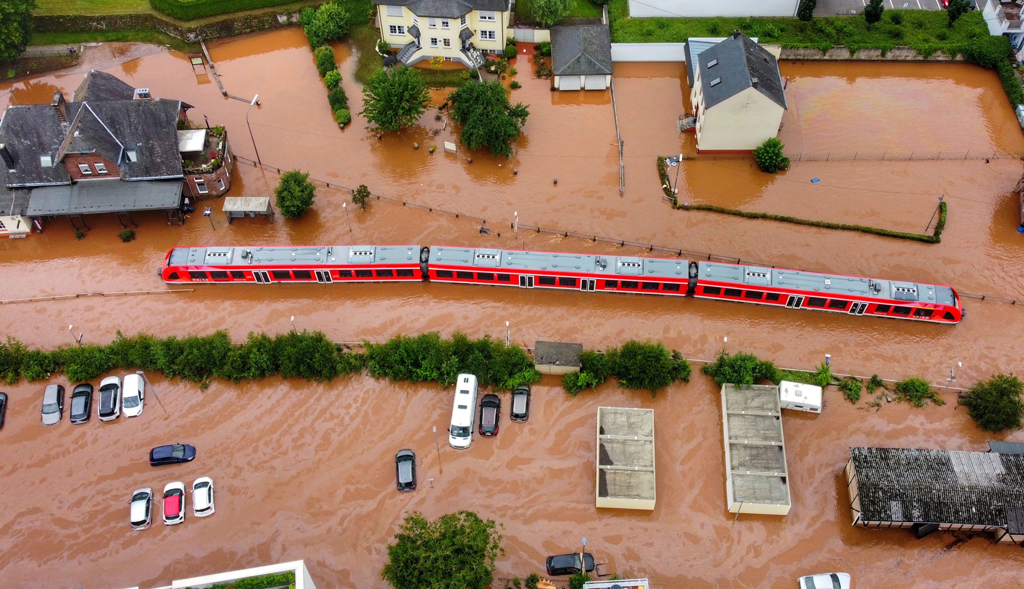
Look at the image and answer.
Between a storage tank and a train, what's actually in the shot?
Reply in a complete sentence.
The image shows a train.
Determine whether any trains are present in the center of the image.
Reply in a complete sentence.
Yes, a train appears in the center of the image.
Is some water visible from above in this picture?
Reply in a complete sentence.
Yes, there's water in this view.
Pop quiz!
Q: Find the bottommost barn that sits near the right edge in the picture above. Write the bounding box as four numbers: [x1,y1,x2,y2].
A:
[842,446,1024,551]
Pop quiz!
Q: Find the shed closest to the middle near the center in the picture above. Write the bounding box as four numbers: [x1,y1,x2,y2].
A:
[534,337,584,375]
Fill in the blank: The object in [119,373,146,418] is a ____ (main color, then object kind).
white vehicle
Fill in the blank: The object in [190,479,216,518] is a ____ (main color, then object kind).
white car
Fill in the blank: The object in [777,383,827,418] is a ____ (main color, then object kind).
white camper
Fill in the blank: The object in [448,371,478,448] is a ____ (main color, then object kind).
white van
